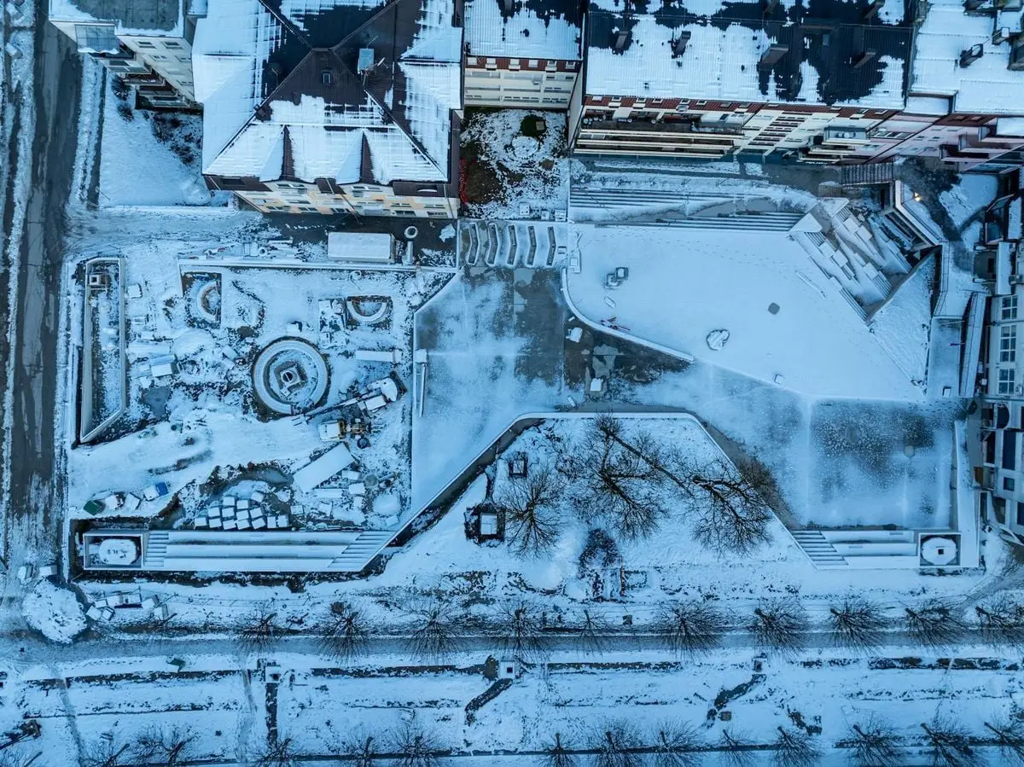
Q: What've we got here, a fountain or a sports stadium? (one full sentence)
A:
The one in the frame is a fountain.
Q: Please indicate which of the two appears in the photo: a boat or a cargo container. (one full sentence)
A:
Of the two, only a cargo container appears.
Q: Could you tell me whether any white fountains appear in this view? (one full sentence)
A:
No, there's no white fountain here.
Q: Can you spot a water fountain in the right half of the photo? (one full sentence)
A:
No, no water fountain appears in the right half of the photo.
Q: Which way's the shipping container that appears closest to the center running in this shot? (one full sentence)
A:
The shipping container that appears closest to the center has been laid out from side to side relative to the frame.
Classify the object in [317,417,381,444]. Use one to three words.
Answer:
work vehicle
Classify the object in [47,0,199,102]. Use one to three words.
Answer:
building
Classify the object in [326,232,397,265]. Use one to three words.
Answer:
shipping container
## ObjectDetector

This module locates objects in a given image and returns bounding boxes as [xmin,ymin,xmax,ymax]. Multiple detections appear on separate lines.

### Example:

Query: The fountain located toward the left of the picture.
[252,338,331,417]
